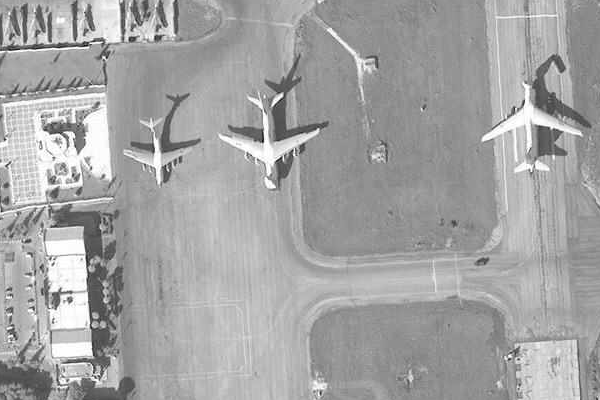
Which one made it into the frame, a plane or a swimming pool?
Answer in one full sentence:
Visible in the photo is a plane.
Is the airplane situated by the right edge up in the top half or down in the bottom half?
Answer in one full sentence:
It is in the top half that the airplane situated by the right edge appears.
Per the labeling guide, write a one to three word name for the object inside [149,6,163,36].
airplane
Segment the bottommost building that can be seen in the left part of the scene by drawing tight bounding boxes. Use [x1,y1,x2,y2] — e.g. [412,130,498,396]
[60,363,92,379]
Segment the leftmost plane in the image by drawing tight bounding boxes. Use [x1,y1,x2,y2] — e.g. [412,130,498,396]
[3,13,17,43]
